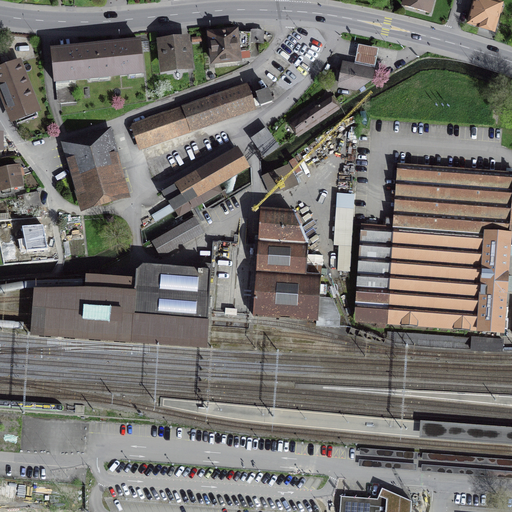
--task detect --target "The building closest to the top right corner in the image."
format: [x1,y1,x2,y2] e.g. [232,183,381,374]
[467,0,504,38]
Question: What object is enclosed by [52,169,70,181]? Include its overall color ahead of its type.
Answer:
white vehicle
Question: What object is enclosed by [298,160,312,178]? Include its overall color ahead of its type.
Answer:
white vehicle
